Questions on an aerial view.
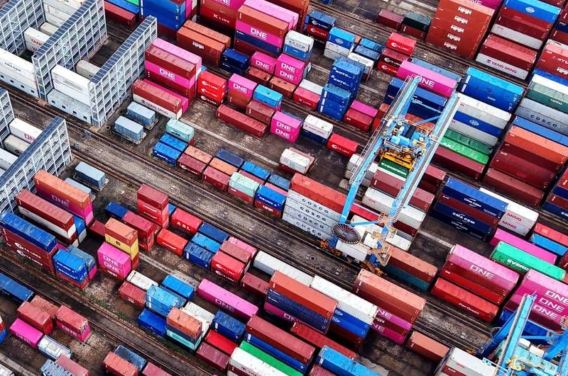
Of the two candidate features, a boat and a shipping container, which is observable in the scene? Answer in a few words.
shipping container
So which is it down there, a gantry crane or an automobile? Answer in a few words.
gantry crane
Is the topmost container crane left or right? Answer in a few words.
right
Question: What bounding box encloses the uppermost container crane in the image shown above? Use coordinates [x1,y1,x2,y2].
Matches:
[312,70,465,283]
